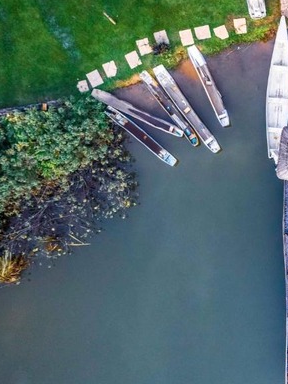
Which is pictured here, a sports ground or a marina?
marina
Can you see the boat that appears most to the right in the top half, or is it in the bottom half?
top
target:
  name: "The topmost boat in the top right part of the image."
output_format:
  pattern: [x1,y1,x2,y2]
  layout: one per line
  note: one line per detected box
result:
[248,0,267,19]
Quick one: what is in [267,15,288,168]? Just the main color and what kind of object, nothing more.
white boat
